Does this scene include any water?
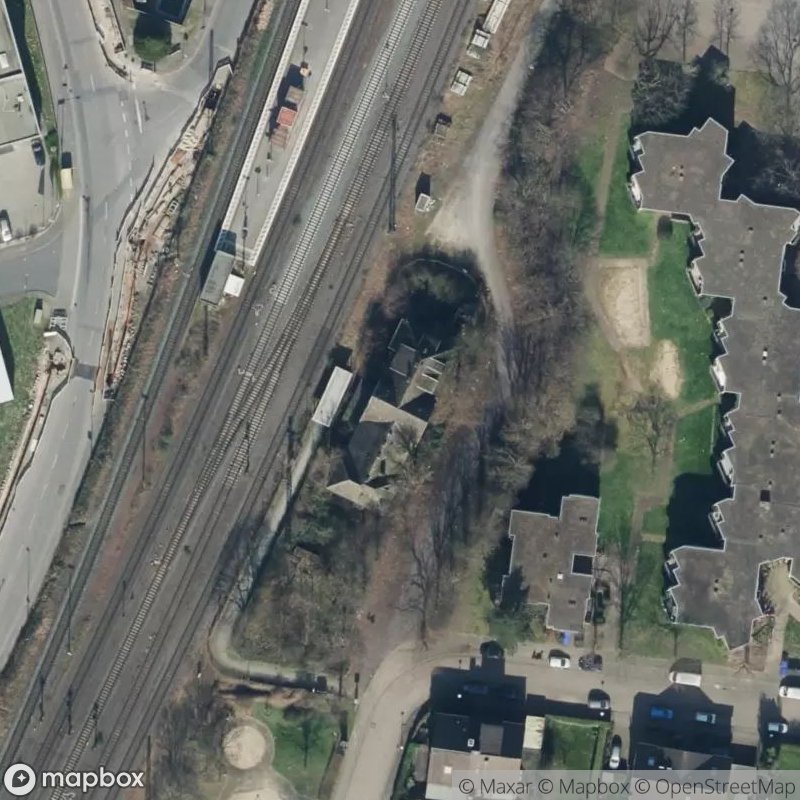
No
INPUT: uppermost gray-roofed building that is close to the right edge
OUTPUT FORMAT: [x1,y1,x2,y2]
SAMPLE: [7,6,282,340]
[628,116,800,652]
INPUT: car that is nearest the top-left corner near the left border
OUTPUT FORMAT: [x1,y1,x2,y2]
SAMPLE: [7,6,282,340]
[32,141,45,164]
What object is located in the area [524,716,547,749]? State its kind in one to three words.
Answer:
building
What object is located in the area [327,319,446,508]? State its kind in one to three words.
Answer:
building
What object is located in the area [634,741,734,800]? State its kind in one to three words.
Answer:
house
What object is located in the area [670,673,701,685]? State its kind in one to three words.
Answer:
vehicle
